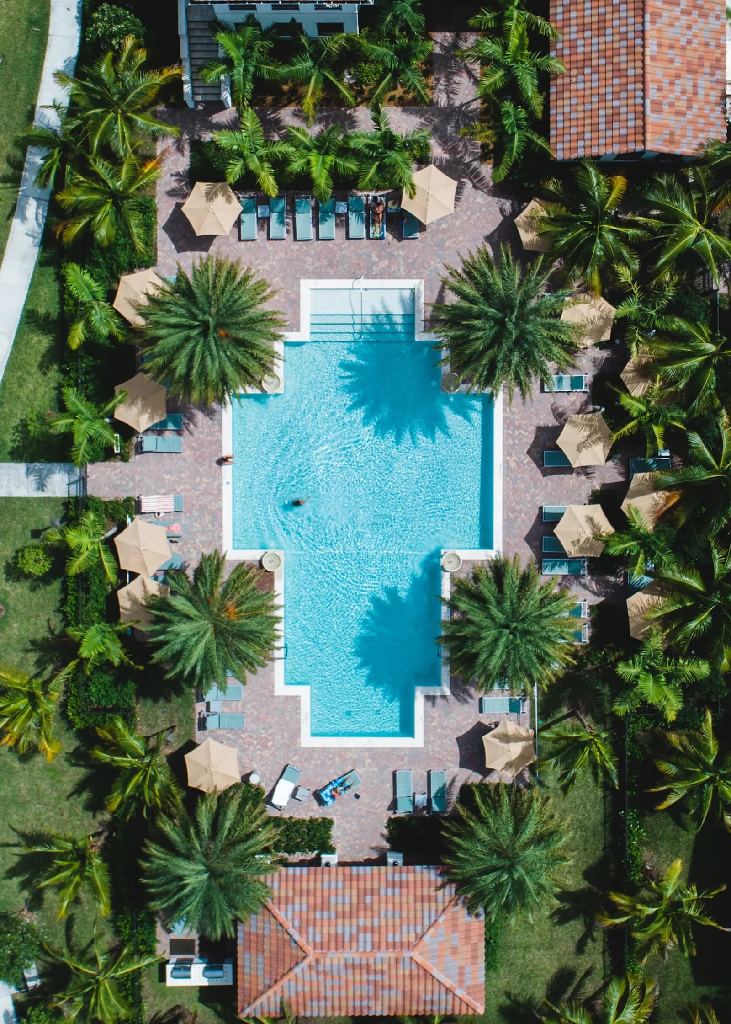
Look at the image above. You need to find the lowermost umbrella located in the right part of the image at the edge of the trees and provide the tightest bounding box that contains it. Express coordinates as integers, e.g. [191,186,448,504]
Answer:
[480,718,536,778]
